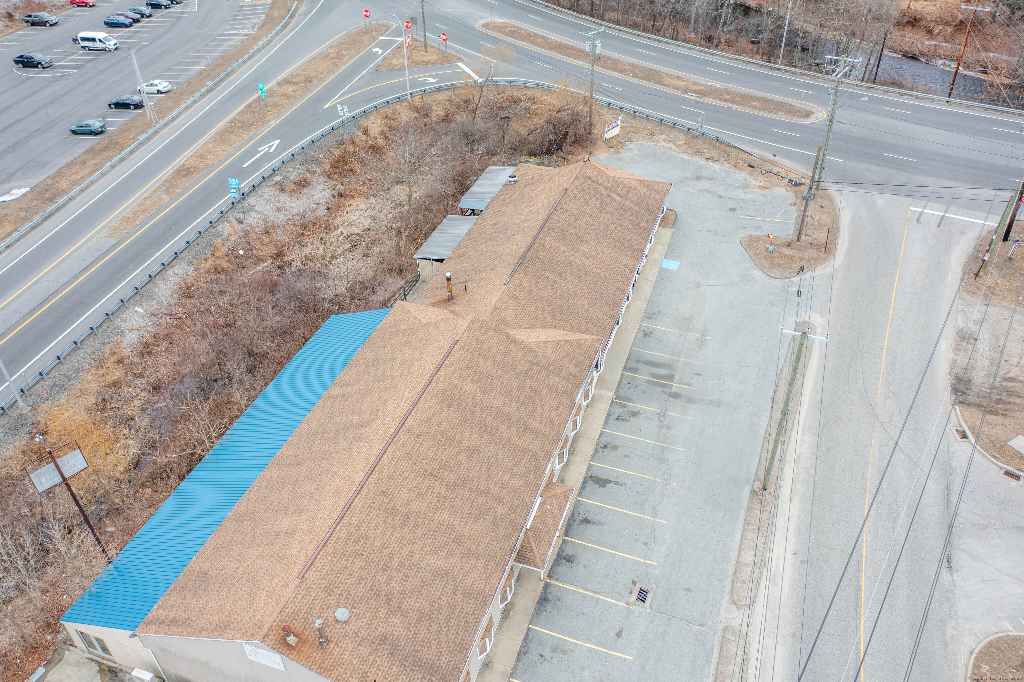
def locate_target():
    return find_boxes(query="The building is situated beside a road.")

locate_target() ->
[57,151,674,682]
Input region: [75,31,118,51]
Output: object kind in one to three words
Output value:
vehicle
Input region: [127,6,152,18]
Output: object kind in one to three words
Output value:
vehicle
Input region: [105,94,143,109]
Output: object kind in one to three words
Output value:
car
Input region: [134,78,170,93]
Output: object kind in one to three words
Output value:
car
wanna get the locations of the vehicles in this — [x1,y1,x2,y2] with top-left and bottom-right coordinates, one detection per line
[143,0,171,9]
[134,78,170,93]
[70,0,94,7]
[105,94,143,109]
[21,13,58,26]
[75,31,118,51]
[12,53,52,69]
[115,10,142,22]
[127,6,152,18]
[102,15,132,27]
[70,34,78,44]
[68,120,105,135]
